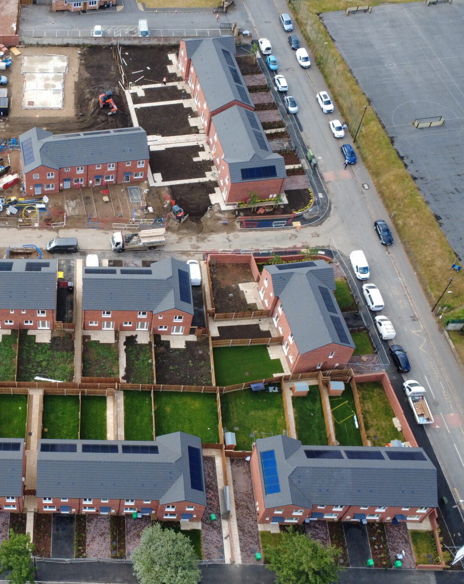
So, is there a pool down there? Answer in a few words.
No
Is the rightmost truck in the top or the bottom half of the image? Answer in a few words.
bottom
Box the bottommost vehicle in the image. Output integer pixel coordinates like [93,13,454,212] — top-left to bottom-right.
[402,383,436,420]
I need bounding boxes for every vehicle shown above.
[0,74,8,85]
[138,17,148,36]
[375,315,398,341]
[92,23,103,37]
[295,45,311,66]
[266,55,278,71]
[317,91,333,112]
[257,39,273,55]
[288,34,300,49]
[402,383,436,420]
[186,261,202,287]
[282,95,298,114]
[363,284,384,311]
[340,144,357,165]
[329,118,345,138]
[47,235,80,253]
[350,248,371,278]
[388,344,412,373]
[273,76,290,92]
[85,253,100,269]
[375,220,392,245]
[112,227,166,251]
[279,12,293,30]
